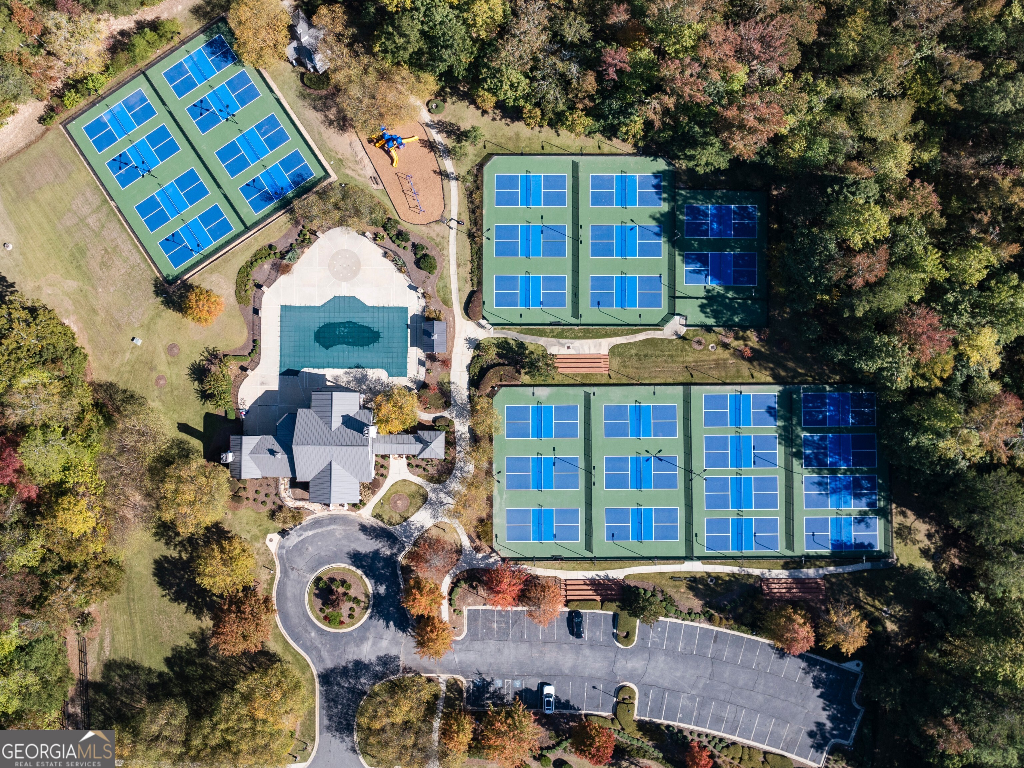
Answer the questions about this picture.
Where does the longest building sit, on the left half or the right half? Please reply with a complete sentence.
The longest building is on the left side of the image.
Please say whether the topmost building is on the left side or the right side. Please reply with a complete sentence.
The topmost building is on the left side of the image.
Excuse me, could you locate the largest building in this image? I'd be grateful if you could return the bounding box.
[222,392,445,510]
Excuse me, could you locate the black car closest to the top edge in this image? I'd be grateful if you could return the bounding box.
[573,612,585,640]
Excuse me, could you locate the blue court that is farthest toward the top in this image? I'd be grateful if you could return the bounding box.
[161,33,238,100]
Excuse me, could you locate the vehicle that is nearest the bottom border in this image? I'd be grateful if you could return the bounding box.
[542,686,555,715]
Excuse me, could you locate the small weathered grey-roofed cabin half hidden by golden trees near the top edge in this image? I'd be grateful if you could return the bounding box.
[287,9,334,74]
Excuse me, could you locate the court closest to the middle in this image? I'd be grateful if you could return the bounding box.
[505,403,579,439]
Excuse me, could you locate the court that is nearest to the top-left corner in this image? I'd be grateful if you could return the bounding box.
[81,87,159,154]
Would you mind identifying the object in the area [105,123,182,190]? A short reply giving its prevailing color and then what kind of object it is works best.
blue sports court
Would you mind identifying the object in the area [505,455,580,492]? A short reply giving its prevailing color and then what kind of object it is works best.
blue sports court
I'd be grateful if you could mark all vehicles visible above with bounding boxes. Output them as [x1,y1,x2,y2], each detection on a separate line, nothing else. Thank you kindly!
[573,612,585,640]
[542,686,555,715]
